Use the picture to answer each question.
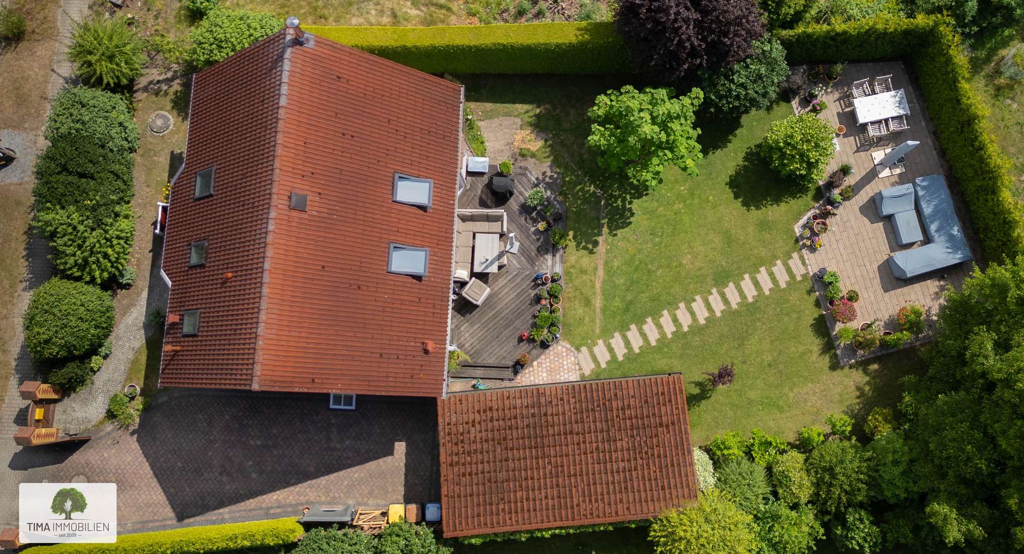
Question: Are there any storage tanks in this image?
No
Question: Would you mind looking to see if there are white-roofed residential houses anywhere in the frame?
No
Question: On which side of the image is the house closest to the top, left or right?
left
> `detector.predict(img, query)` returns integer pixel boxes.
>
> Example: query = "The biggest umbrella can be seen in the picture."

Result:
[872,144,919,176]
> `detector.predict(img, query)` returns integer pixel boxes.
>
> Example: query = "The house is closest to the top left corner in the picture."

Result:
[153,16,472,411]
